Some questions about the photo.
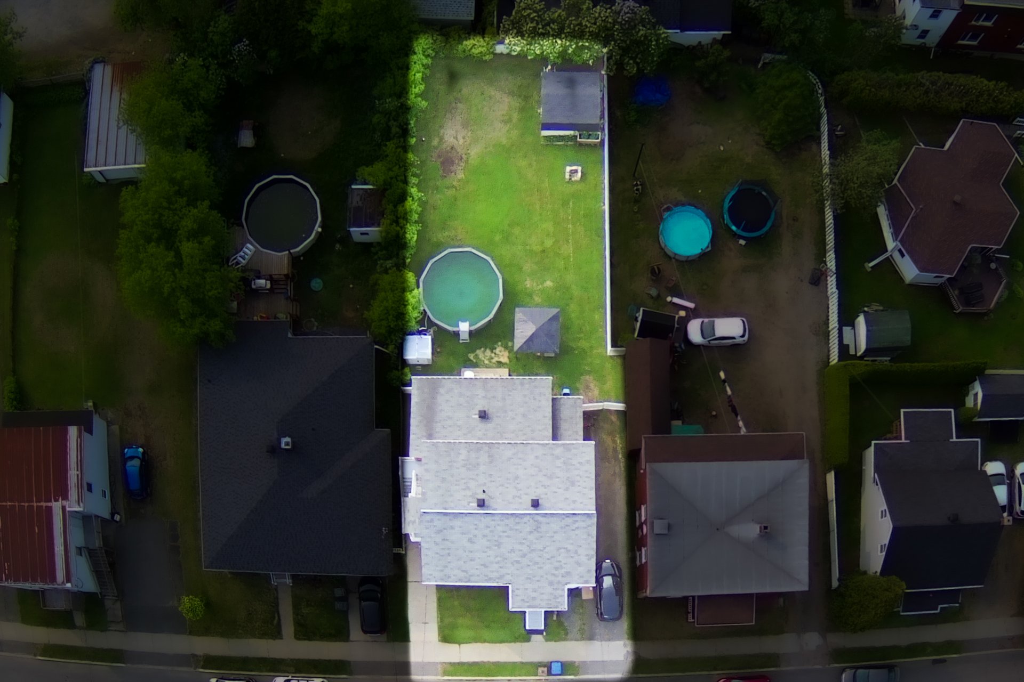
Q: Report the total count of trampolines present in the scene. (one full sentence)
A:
The picture shows 1 trampoline.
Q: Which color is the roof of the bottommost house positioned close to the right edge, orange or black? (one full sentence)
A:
The roof of the bottommost house positioned close to the right edge is black.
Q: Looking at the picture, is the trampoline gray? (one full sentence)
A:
No, the trampoline is actually black.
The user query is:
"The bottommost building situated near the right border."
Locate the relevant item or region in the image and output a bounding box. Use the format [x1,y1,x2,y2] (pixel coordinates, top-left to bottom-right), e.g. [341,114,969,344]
[863,409,1013,615]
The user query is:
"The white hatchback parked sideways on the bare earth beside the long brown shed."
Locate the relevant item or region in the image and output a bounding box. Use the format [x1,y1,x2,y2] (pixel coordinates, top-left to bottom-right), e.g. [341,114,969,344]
[687,315,748,348]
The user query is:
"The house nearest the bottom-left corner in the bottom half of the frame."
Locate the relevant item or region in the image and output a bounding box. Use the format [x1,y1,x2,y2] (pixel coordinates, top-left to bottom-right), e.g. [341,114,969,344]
[0,411,140,609]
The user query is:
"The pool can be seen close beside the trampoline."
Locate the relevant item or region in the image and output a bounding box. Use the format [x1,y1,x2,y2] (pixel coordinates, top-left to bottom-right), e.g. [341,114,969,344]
[654,202,715,266]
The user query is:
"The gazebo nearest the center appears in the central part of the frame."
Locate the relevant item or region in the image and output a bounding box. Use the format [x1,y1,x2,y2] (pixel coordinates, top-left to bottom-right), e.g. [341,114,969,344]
[515,307,559,361]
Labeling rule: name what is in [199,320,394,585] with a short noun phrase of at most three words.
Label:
house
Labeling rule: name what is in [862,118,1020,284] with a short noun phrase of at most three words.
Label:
house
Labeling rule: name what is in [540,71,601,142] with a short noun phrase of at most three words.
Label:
shed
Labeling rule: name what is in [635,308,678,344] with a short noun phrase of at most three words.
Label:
trailer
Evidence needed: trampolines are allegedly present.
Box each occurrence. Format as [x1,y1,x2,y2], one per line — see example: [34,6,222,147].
[721,172,782,238]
